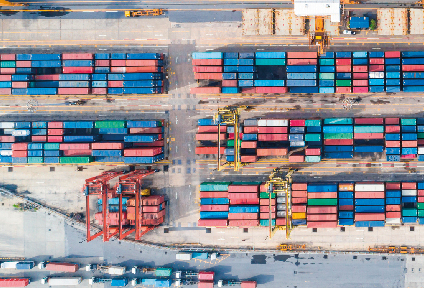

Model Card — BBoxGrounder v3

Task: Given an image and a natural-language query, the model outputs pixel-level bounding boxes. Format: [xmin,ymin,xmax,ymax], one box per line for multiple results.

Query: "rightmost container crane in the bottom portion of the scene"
[265,169,300,243]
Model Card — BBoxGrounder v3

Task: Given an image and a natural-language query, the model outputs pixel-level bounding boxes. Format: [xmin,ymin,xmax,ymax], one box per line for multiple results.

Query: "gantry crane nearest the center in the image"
[216,103,254,174]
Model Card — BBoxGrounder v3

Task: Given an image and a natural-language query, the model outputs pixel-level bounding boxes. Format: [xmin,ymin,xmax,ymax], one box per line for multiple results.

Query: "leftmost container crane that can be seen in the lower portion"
[82,167,130,243]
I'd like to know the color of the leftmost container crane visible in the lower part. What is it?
red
